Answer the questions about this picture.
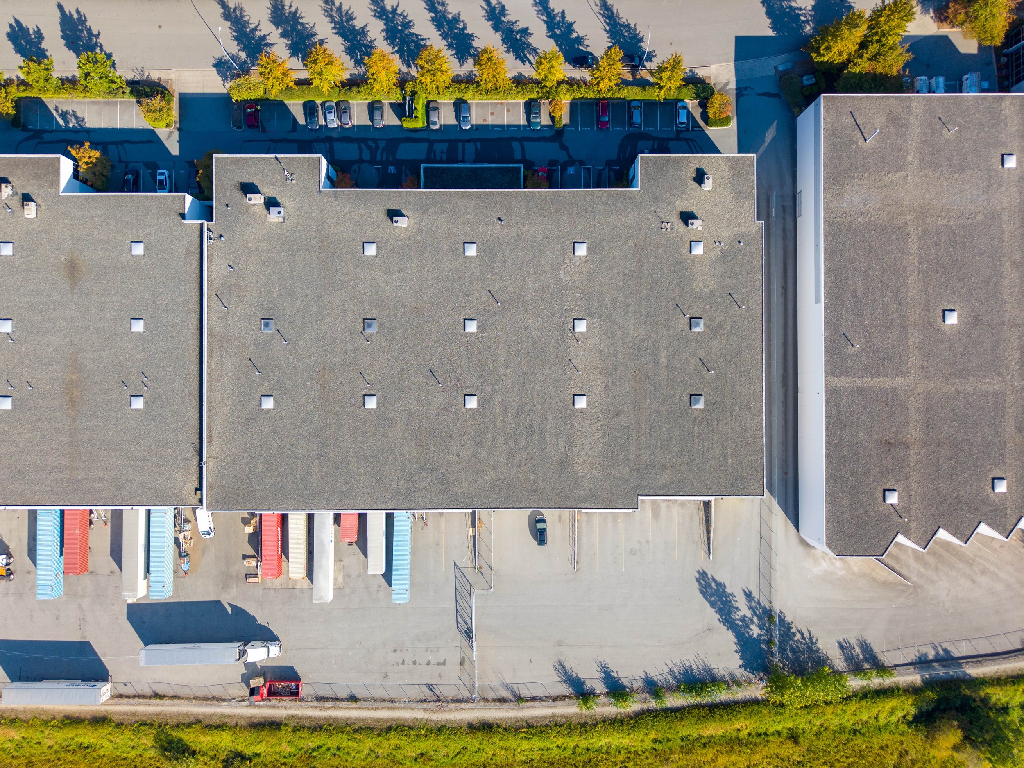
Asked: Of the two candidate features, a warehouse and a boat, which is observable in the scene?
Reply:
warehouse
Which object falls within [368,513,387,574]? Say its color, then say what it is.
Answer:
white trailer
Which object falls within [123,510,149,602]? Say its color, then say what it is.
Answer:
white trailer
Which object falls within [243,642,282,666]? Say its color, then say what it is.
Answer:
white truck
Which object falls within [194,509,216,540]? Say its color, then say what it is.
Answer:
white vehicle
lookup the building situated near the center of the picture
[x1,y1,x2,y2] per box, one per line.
[180,153,766,514]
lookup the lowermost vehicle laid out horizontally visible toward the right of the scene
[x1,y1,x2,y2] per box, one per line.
[629,145,660,160]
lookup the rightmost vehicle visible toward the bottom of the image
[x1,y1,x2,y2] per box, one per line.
[534,513,547,546]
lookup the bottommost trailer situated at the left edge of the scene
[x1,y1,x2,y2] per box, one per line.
[2,678,110,704]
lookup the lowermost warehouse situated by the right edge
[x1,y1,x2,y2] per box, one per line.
[797,94,1024,558]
